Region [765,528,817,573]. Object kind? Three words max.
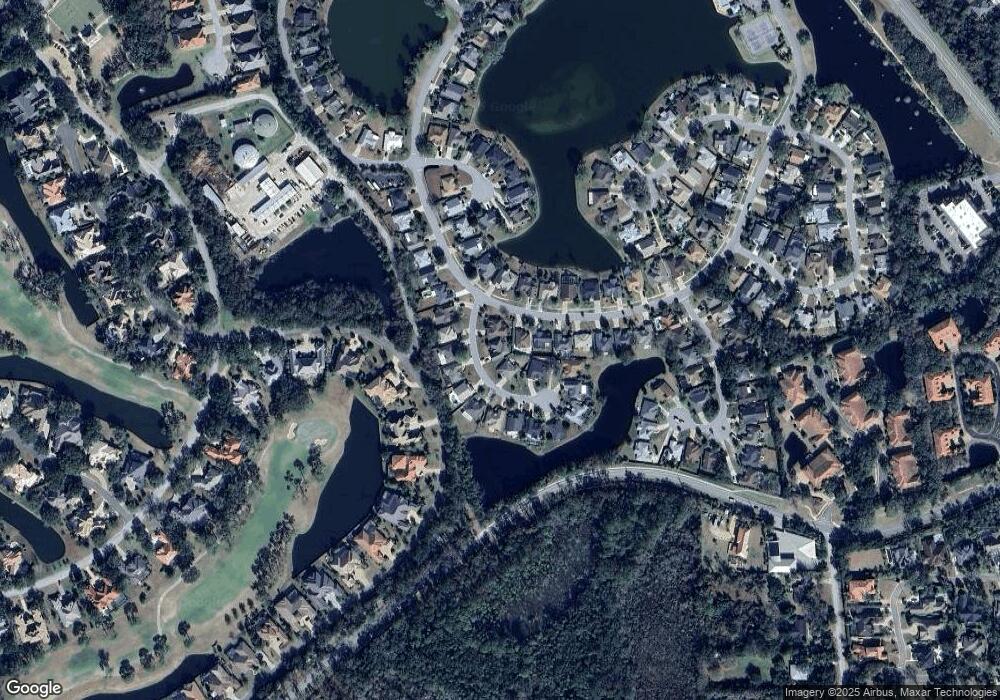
building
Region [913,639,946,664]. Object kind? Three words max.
house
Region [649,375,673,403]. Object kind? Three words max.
house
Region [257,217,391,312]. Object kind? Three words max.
pond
